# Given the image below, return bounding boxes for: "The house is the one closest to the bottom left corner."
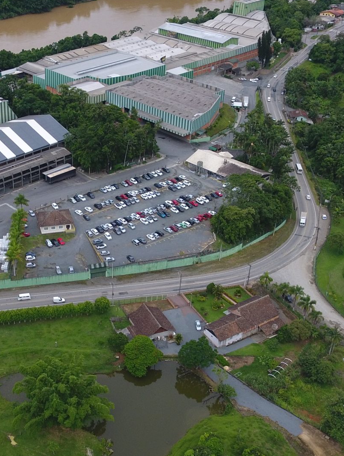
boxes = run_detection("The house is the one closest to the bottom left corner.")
[125,303,178,347]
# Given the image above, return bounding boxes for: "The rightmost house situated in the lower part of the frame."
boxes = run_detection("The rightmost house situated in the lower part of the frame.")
[200,291,287,354]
